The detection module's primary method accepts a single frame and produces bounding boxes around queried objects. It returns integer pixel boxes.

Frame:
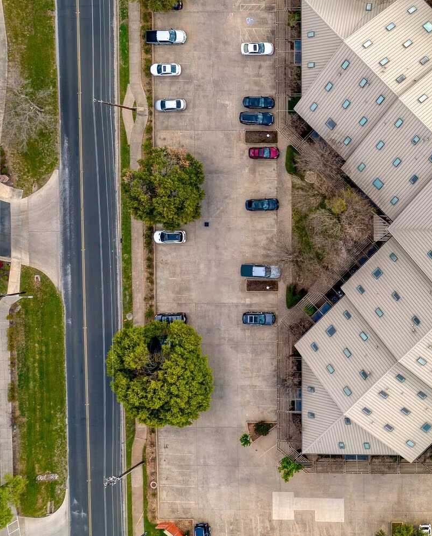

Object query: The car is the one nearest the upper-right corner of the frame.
[241,40,274,56]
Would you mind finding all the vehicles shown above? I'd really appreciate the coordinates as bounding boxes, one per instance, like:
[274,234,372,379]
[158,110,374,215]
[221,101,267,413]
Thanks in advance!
[156,96,189,112]
[154,311,189,325]
[194,521,212,536]
[419,522,432,536]
[245,197,280,212]
[239,110,275,125]
[152,0,186,13]
[248,145,281,160]
[243,94,276,110]
[240,264,282,280]
[145,28,188,45]
[241,40,274,56]
[154,229,189,245]
[242,311,276,326]
[151,61,184,77]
